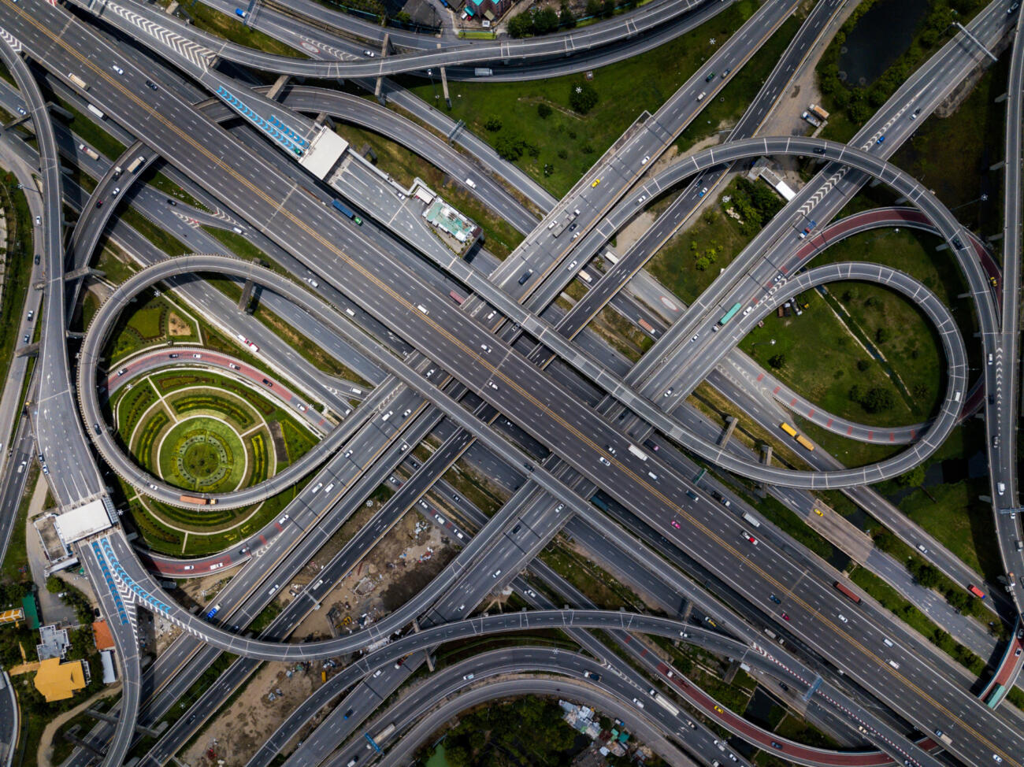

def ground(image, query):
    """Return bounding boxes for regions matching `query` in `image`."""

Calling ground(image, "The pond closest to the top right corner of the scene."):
[837,0,928,89]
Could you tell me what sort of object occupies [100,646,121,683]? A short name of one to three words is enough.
shed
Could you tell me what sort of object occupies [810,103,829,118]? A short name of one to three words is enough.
vehicle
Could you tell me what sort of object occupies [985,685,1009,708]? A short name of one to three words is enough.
truck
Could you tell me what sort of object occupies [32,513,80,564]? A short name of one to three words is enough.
building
